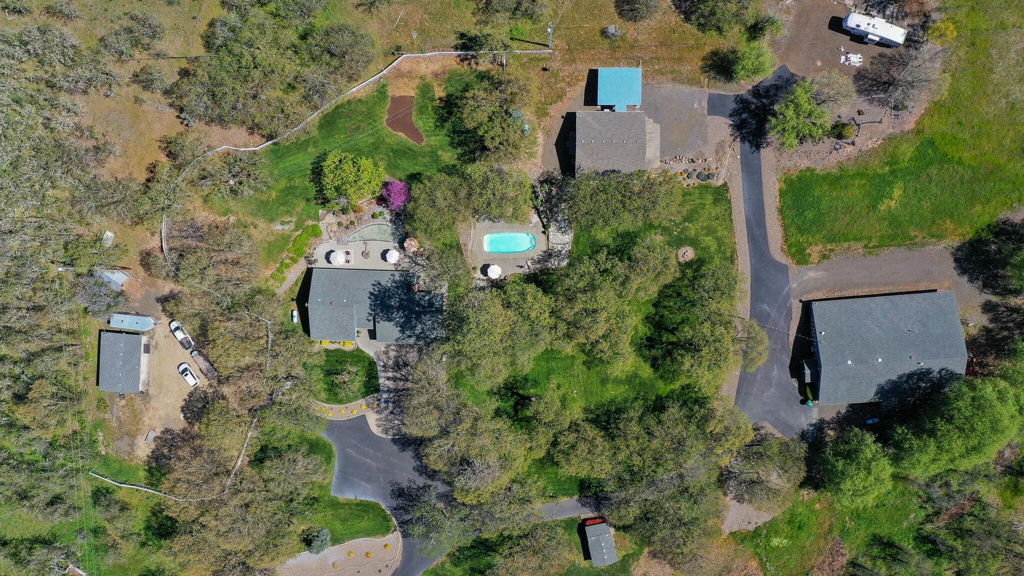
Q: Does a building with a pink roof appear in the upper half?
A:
No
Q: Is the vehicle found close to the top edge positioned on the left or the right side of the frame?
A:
right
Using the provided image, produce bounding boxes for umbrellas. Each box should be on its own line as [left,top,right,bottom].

[487,264,501,278]
[386,250,399,263]
[330,249,346,265]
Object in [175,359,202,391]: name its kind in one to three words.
car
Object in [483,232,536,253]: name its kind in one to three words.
swimming pool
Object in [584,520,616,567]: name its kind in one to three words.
shed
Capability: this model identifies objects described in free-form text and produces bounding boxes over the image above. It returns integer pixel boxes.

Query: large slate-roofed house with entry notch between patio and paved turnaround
[302,268,446,345]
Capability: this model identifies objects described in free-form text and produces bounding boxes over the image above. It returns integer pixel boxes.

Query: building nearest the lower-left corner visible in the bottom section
[99,331,147,391]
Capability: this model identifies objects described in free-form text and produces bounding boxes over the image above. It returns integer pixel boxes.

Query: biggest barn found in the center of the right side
[800,291,970,405]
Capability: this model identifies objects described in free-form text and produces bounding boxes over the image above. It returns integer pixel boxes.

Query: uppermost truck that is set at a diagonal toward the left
[164,317,197,354]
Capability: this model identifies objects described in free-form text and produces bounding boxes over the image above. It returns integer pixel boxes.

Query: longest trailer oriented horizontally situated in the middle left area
[109,312,162,330]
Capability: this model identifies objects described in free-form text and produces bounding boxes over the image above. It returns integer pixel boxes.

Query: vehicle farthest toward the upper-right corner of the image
[840,13,908,48]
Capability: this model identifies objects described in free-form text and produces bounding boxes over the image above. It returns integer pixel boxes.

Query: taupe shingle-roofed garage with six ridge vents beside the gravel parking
[575,111,649,178]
